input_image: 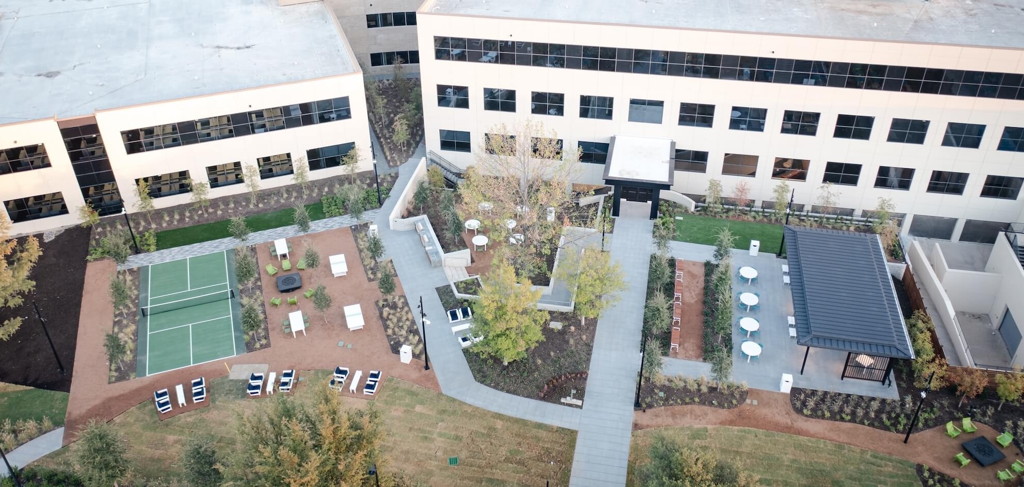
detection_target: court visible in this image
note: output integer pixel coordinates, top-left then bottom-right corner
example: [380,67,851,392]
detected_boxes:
[148,250,234,374]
